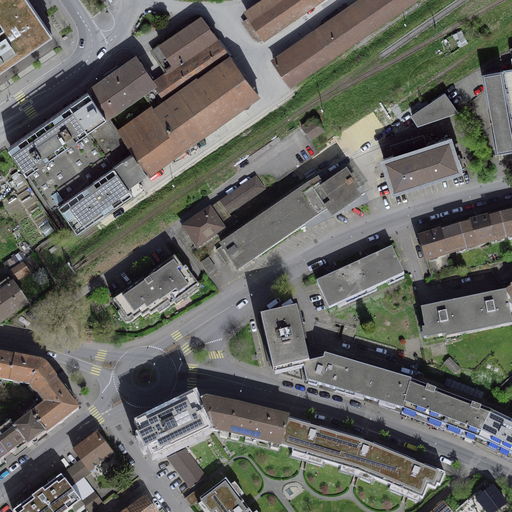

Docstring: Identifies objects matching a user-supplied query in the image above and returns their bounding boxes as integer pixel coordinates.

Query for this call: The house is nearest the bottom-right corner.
[454,484,511,512]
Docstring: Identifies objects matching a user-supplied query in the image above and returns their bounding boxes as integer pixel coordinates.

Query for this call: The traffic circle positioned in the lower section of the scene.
[130,362,160,390]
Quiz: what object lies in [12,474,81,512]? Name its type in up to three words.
building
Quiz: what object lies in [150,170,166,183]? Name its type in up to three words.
vehicle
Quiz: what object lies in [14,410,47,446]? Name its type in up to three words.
house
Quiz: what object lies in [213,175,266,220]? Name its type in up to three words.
shed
